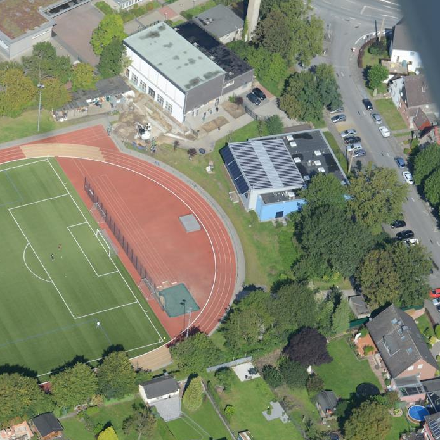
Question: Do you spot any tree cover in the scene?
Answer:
Yes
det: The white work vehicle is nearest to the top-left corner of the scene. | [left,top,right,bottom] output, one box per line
[133,123,152,137]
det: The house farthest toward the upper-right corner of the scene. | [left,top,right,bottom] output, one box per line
[379,7,418,81]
